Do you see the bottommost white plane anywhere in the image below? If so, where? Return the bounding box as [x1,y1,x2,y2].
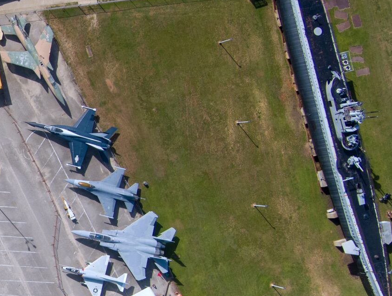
[57,257,130,296]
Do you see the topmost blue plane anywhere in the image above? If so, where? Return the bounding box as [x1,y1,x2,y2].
[26,103,117,168]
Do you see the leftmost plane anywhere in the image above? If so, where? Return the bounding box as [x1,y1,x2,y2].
[0,10,65,104]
